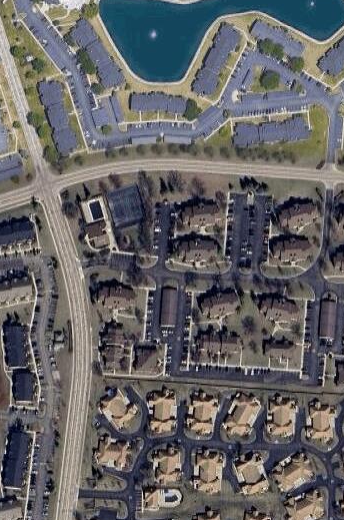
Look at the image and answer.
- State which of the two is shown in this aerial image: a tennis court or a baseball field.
tennis court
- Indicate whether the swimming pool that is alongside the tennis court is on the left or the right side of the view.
left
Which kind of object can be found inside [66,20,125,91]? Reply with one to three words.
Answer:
building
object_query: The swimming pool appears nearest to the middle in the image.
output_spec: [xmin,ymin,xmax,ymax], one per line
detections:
[83,195,108,224]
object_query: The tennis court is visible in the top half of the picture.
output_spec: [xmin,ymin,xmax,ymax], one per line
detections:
[108,187,145,227]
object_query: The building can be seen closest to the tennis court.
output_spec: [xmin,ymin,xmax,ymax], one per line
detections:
[84,228,108,249]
